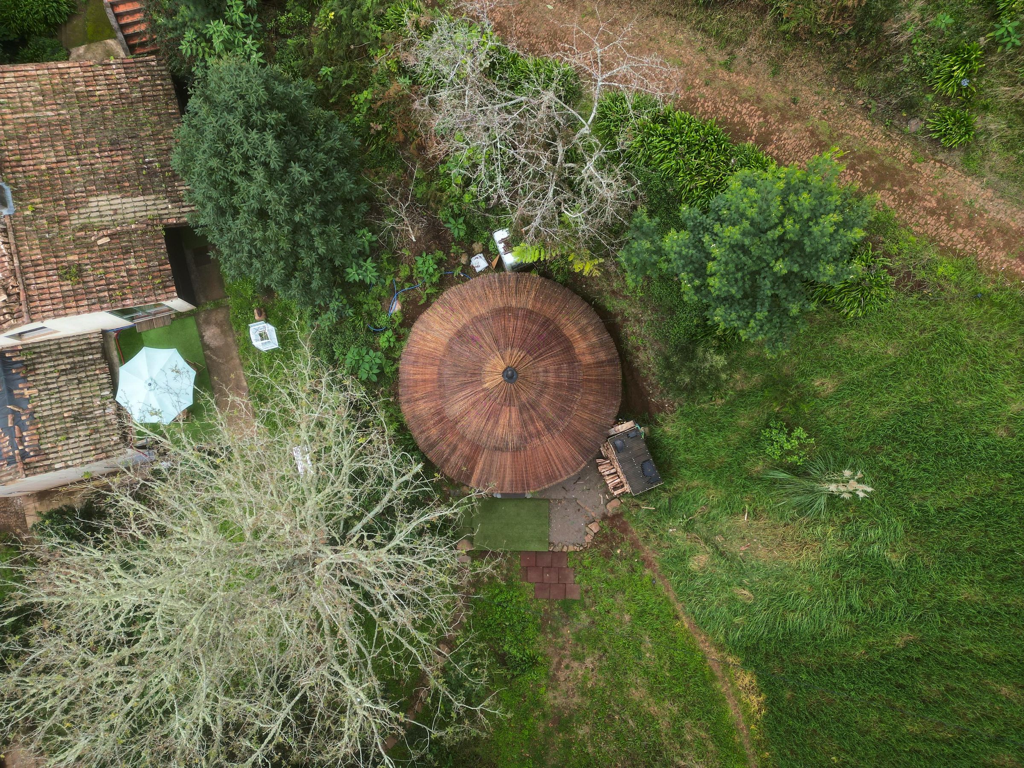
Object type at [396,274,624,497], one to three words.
shed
